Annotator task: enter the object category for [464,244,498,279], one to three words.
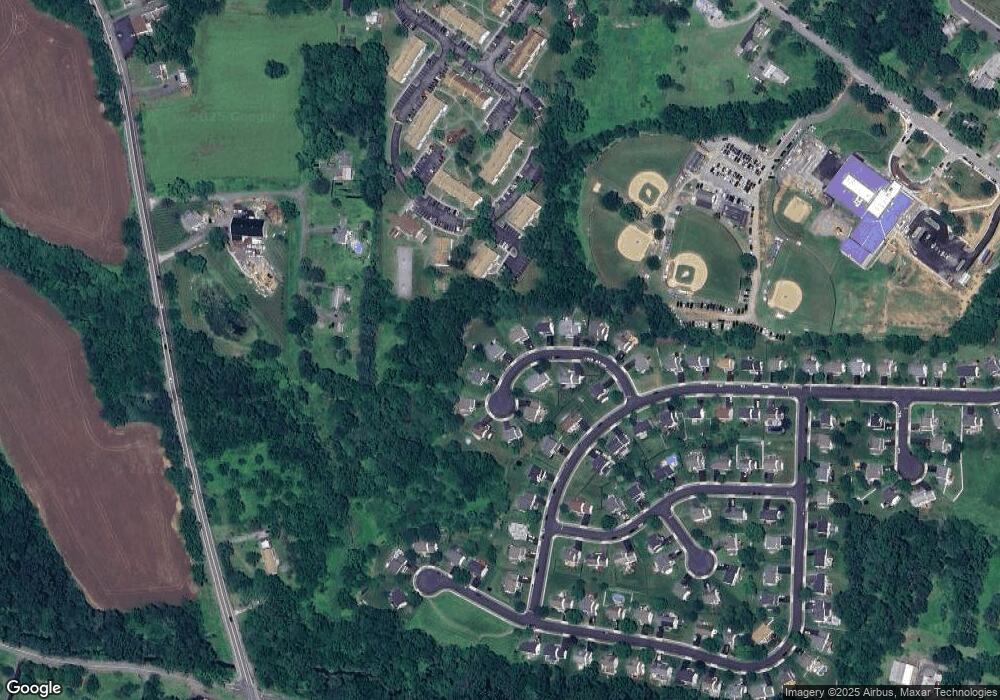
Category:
building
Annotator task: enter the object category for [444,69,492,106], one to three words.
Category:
building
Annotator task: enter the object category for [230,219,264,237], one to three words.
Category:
barn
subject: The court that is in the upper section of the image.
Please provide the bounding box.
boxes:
[396,247,412,298]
